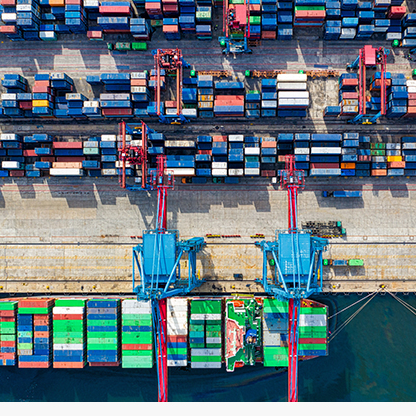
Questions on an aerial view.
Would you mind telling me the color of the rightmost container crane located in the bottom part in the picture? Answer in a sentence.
The color of the rightmost container crane located in the bottom part is blue.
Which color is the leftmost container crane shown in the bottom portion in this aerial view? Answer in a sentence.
The leftmost container crane shown in the bottom portion looks blue in the image.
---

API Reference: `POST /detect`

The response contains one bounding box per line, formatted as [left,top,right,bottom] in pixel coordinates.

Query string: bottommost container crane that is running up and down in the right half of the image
[256,154,331,416]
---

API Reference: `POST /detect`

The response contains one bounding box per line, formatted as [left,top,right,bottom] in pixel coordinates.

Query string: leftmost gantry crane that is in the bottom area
[131,154,209,416]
